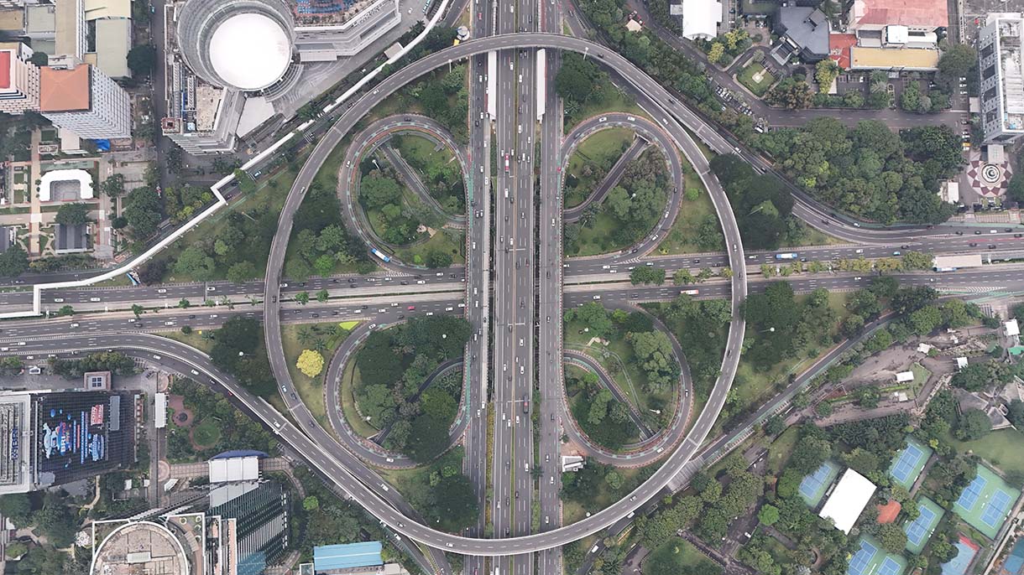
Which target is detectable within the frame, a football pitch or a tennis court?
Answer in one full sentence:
Visible in the photo is a tennis court.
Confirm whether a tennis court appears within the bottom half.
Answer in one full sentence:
Yes, a tennis court shows up within the bottom half.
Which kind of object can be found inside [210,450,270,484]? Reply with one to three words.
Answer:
building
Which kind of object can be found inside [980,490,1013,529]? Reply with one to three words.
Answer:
tennis court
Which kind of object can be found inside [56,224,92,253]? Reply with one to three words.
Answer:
building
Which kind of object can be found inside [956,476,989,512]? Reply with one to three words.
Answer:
tennis court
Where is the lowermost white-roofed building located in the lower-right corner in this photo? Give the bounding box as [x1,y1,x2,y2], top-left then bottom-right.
[816,467,878,535]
